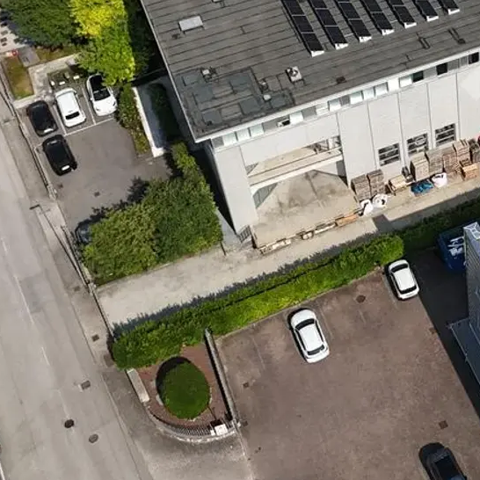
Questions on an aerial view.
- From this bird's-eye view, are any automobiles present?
Yes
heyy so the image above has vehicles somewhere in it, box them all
[54,91,87,129]
[383,259,423,305]
[88,79,118,116]
[288,310,328,365]
[421,438,467,480]
[25,101,58,139]
[42,133,78,178]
